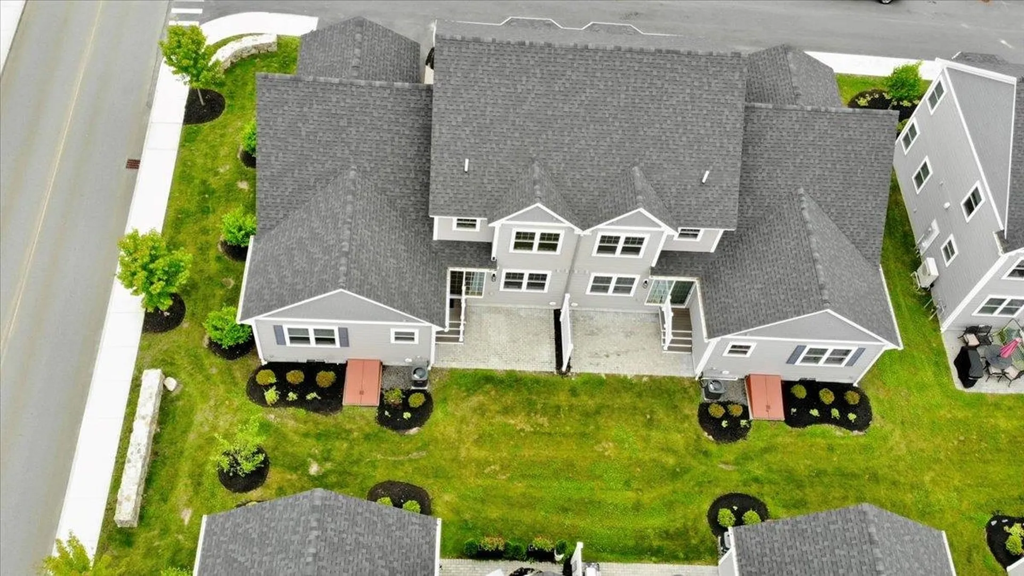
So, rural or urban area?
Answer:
urban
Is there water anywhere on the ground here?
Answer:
No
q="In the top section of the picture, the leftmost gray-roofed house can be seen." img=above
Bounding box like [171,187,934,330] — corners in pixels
[234,16,905,384]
